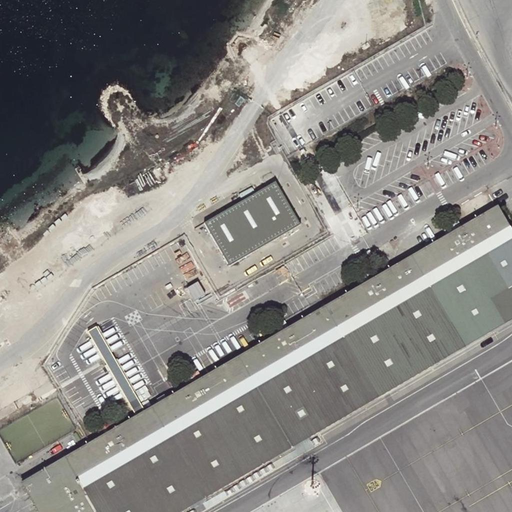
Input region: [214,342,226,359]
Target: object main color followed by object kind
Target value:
white vehicle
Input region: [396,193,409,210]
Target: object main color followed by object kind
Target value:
white vehicle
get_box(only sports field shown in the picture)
[0,398,76,462]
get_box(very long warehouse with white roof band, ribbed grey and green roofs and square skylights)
[66,204,512,512]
